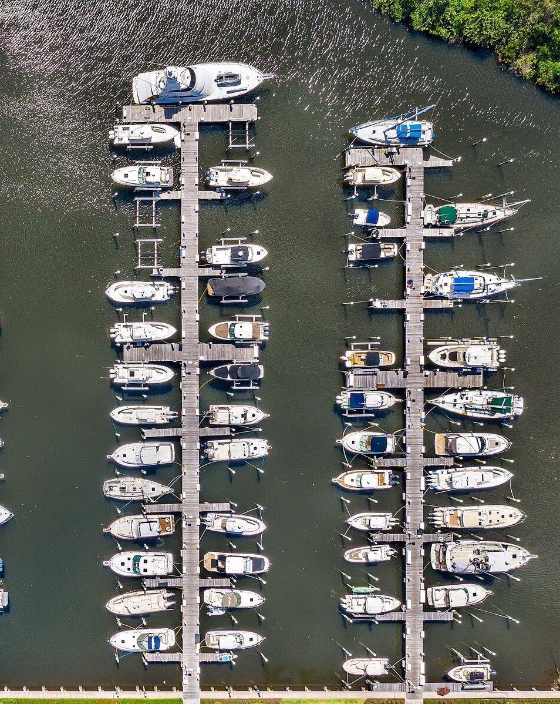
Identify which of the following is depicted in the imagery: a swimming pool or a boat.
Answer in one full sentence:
Visible in the photo is a boat.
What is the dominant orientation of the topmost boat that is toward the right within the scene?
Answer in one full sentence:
From this overhead view, the topmost boat that is toward the right appears to run from side to side.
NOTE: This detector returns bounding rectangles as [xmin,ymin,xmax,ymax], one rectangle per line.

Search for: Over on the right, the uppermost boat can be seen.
[349,103,436,147]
